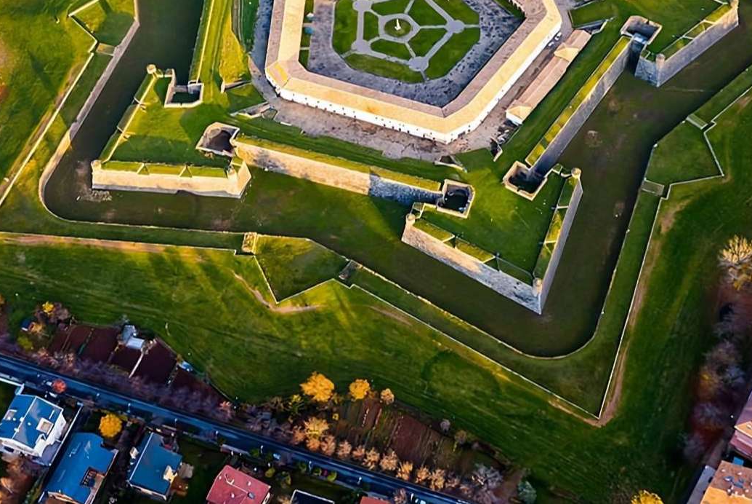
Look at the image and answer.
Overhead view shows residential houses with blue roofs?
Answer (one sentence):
Yes, the image includes a residential house with a blue roof.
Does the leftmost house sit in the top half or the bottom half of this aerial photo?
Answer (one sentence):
You can find the leftmost house in the bottom half.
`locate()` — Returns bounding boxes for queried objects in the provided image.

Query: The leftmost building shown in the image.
[0,391,67,460]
